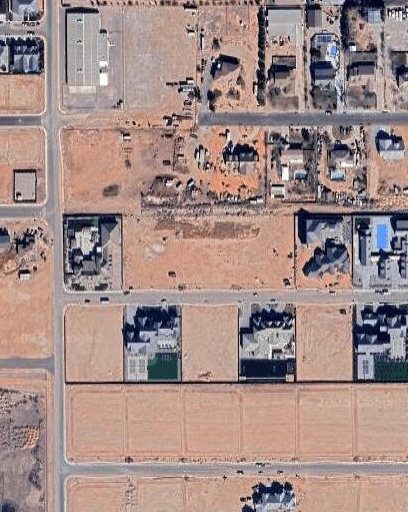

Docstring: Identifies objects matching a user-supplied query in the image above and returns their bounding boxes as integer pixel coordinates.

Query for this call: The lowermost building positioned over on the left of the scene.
[130,312,181,354]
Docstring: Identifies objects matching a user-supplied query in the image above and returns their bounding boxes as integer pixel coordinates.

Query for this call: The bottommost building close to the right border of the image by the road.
[355,311,408,352]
